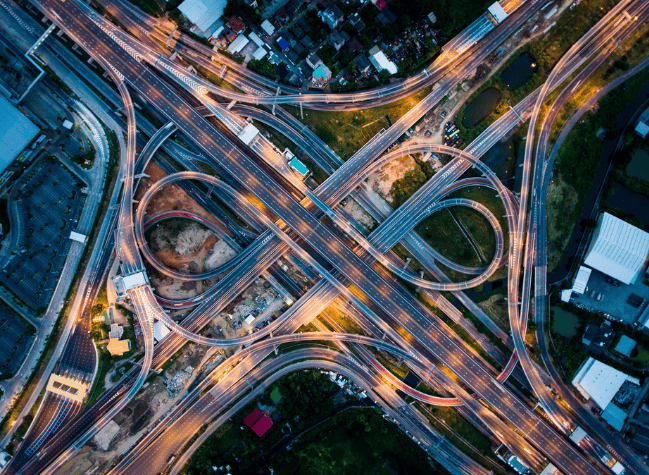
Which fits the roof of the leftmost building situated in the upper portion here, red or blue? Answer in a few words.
blue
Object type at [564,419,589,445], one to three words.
toll station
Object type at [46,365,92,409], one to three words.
toll station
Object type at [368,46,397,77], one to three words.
house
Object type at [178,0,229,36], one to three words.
building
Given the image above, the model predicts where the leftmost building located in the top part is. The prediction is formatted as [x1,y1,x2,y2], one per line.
[0,82,51,178]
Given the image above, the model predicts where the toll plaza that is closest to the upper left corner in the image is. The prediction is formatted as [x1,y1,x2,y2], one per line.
[235,120,266,150]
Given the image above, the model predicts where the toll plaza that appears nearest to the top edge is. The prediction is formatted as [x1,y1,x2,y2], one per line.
[480,0,511,29]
